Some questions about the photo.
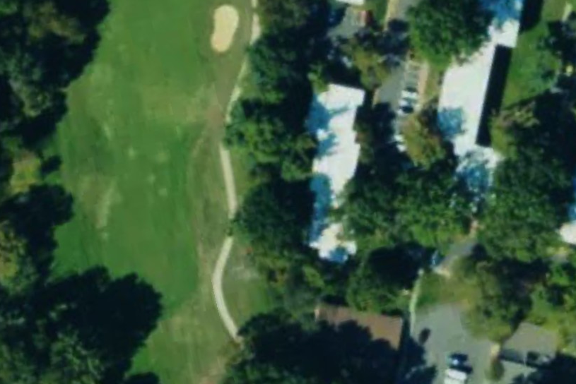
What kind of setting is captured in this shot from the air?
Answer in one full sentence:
This image shows a golf course.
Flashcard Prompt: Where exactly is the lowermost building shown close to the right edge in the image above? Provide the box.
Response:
[499,323,558,367]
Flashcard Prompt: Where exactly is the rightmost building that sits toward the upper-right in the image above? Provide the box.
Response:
[438,0,524,201]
